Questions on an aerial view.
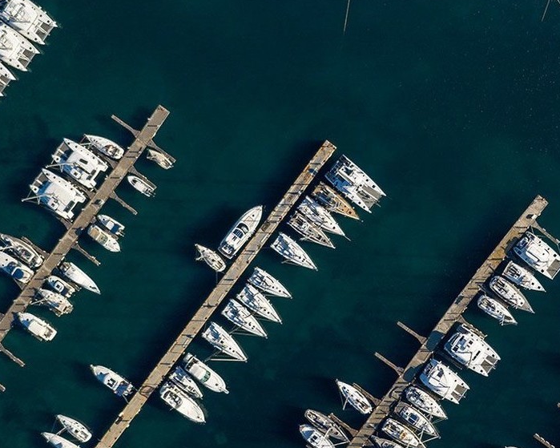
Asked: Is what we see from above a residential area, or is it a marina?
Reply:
marina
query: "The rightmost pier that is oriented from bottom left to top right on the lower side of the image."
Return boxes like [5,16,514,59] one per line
[306,195,559,448]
